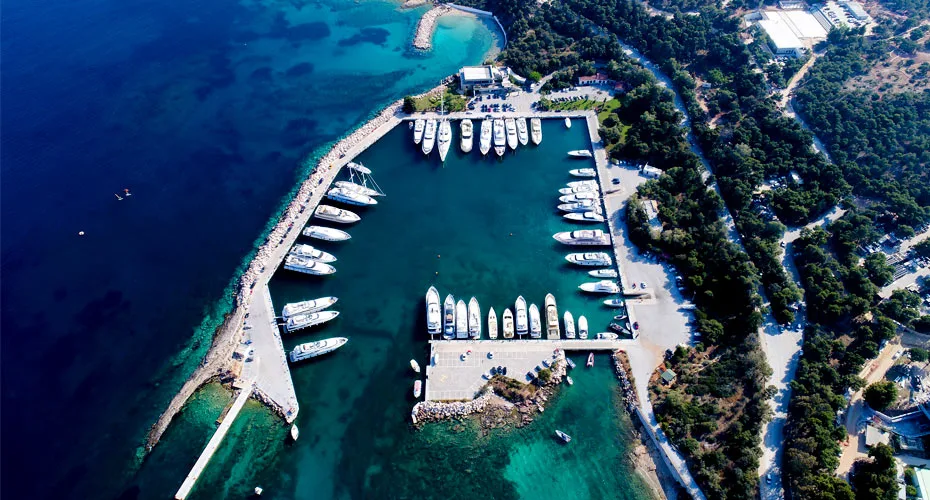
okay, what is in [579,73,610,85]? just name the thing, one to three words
house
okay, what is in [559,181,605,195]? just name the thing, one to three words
boat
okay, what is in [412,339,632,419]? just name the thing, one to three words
pier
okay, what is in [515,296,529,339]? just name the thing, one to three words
boat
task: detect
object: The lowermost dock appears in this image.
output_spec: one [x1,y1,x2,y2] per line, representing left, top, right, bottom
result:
[176,383,255,500]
